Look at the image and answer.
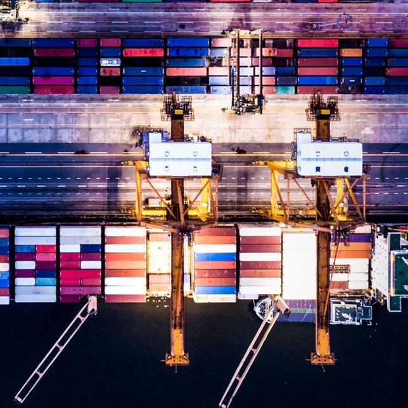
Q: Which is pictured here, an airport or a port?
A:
port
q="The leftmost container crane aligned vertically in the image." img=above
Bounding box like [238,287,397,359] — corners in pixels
[123,85,225,378]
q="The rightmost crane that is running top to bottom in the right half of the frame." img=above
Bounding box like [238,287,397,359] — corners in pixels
[254,85,373,378]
